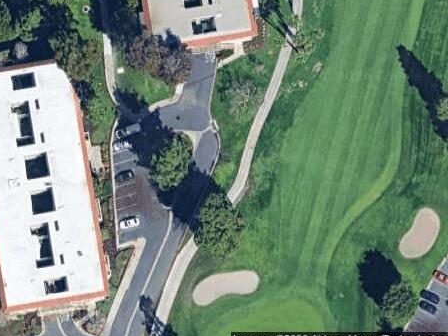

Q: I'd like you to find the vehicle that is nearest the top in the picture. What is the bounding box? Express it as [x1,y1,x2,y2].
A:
[115,125,140,139]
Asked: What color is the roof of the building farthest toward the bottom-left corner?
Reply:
white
